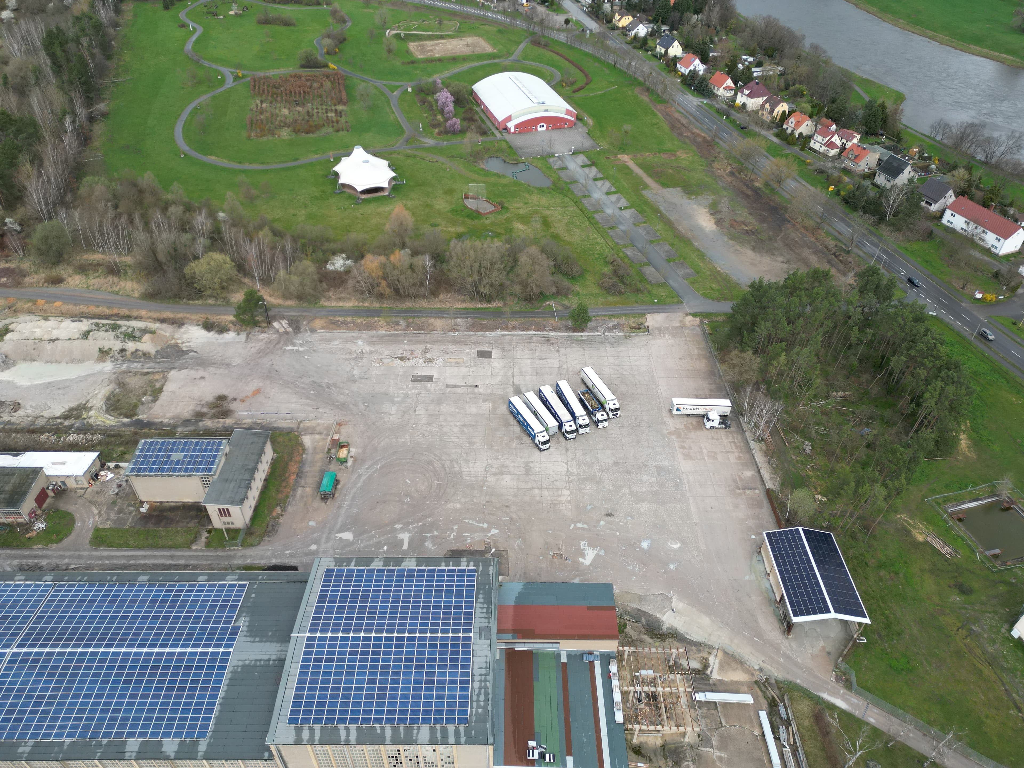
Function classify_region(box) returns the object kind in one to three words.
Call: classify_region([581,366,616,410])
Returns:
trailer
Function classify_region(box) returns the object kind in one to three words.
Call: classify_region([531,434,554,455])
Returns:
truck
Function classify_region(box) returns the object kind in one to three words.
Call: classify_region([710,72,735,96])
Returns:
house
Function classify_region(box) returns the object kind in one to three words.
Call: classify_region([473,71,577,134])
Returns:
building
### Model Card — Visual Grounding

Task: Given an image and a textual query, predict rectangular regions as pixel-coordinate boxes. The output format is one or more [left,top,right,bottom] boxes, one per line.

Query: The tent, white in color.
[328,146,403,203]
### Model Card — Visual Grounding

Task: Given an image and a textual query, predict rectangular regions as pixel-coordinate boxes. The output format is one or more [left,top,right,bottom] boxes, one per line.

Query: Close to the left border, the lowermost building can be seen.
[0,573,313,768]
